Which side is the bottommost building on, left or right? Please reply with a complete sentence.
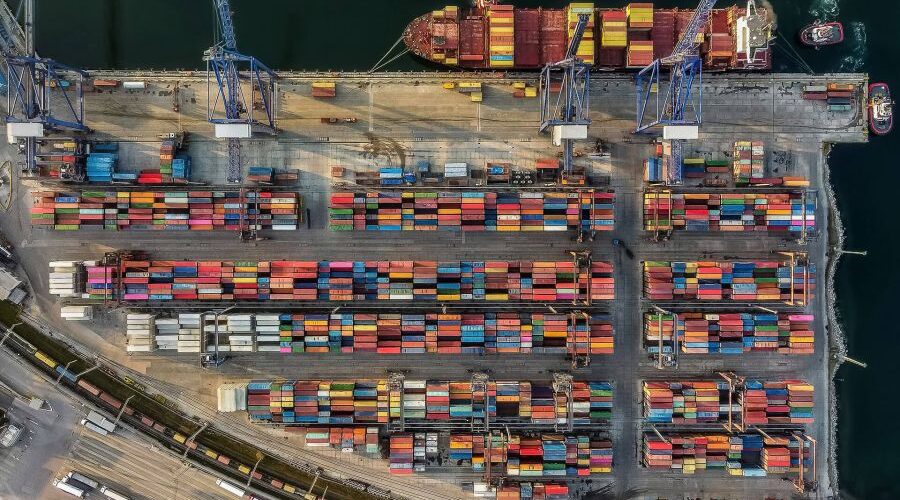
The bottommost building sits on the left side.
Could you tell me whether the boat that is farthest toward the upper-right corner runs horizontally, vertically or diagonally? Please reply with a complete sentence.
The boat that is farthest toward the upper-right corner is oriented horizontally.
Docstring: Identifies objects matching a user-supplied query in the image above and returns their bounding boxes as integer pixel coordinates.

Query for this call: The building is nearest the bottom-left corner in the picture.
[0,421,31,449]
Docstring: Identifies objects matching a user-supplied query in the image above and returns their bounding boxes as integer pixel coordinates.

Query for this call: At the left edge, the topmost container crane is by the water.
[0,0,102,170]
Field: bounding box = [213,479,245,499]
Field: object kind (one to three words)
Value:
vehicle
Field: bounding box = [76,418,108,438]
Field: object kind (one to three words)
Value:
vehicle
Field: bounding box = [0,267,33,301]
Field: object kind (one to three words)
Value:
building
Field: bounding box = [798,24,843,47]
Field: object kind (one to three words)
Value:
boat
